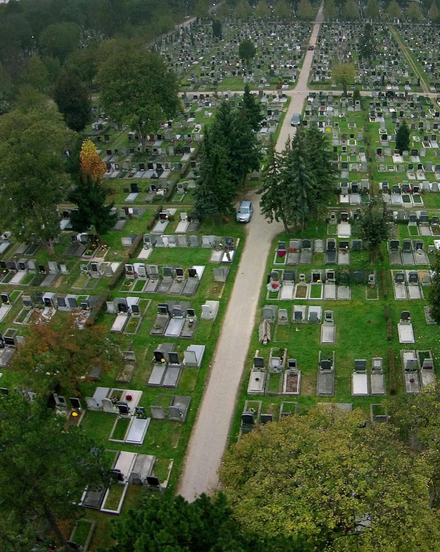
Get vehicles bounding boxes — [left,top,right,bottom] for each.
[307,44,314,50]
[235,195,254,219]
[288,109,301,122]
